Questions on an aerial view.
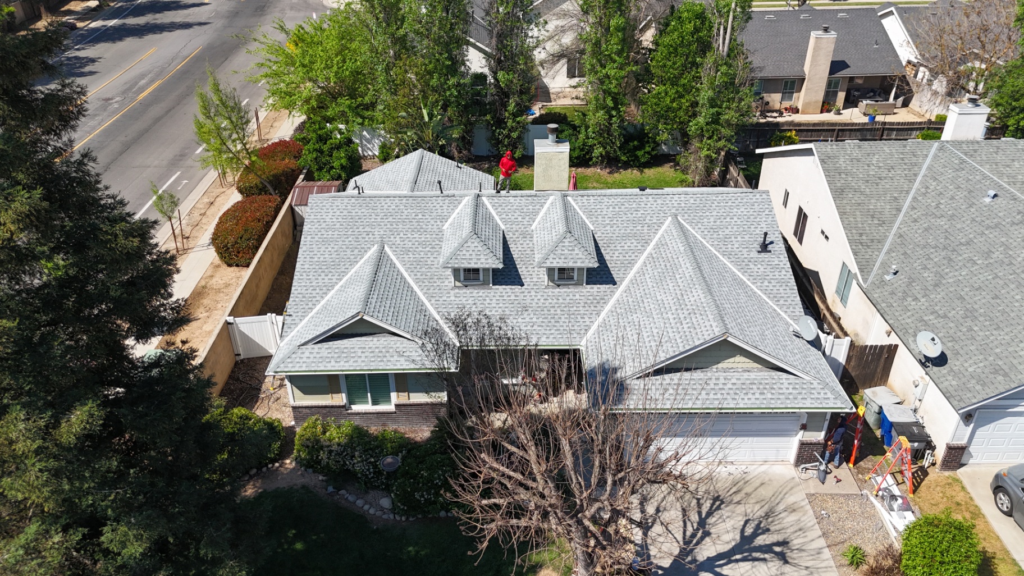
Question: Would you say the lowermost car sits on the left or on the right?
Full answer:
It is on the right.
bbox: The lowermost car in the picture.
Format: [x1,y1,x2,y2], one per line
[992,473,1024,537]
